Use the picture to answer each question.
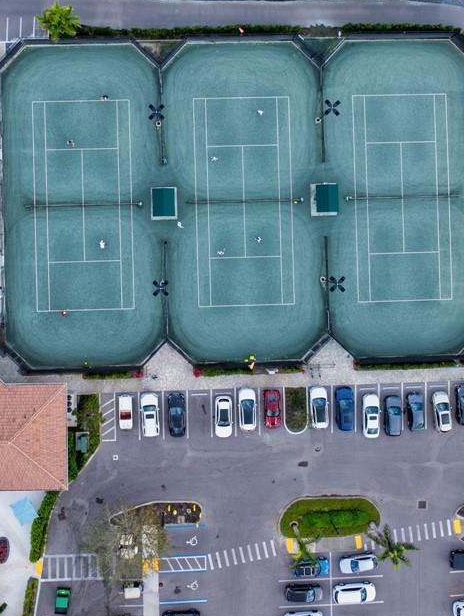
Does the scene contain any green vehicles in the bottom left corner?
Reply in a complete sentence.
Yes, there is a green vehicle in the bottom left corner.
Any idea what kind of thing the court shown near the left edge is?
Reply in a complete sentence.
The court shown near the left edge in the image is a tennis court.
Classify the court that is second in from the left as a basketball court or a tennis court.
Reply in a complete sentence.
It looks like the court that is second in from the left is a tennis court.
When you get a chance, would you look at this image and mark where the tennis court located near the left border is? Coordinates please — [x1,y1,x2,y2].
[1,44,165,370]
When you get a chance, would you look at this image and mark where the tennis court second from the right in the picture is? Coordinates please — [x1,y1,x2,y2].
[159,43,328,366]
